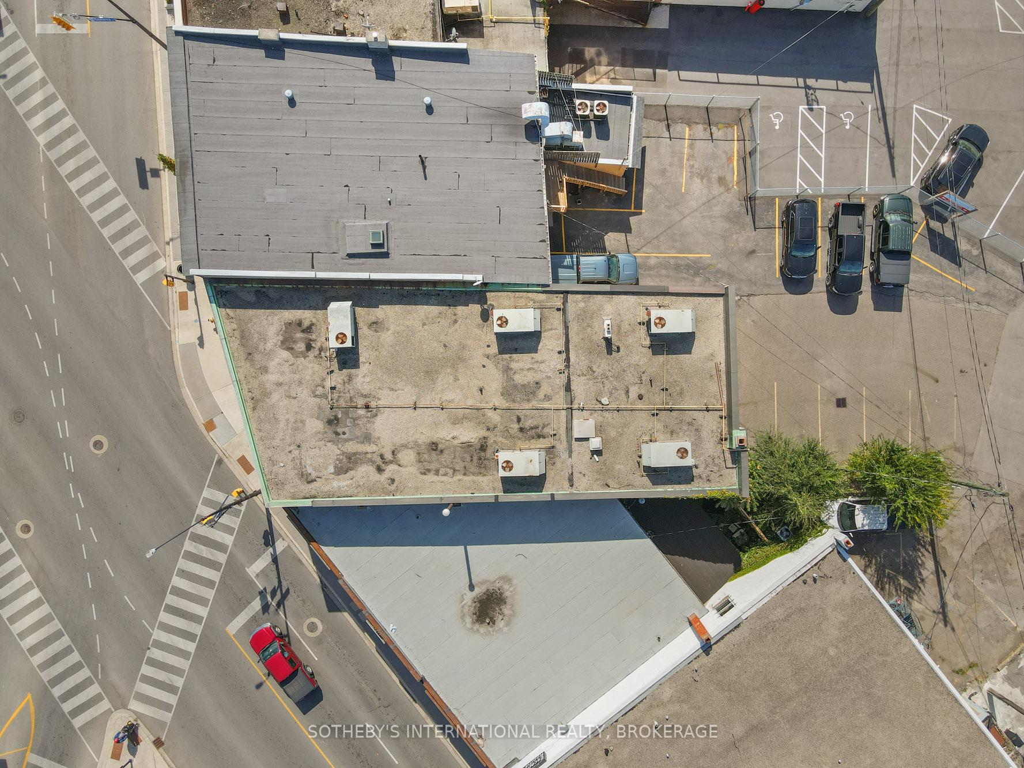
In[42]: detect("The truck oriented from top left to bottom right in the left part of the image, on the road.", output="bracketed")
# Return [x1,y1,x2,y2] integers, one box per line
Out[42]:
[250,622,318,705]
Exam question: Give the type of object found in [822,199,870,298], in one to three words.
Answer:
truck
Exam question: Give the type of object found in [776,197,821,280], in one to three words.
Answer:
car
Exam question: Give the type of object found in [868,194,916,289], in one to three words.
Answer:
truck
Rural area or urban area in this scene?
urban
